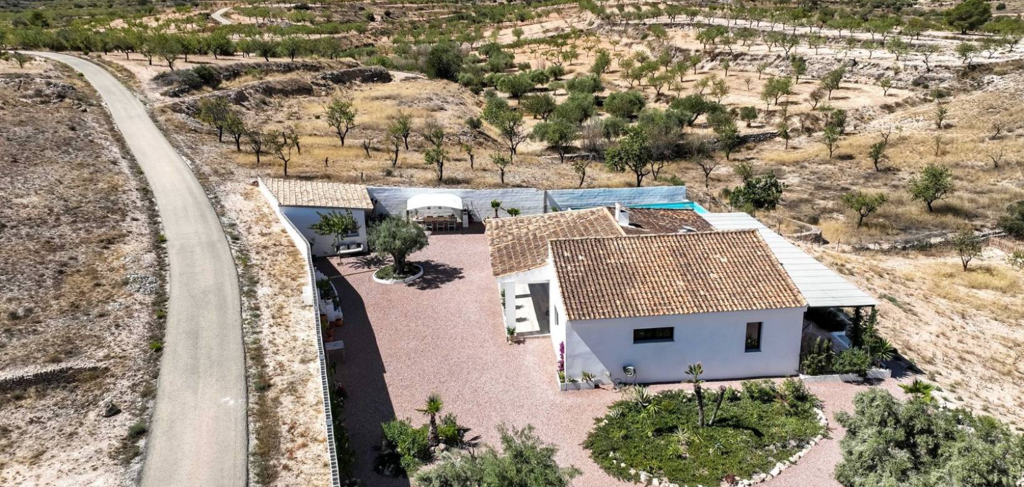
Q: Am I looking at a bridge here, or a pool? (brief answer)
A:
pool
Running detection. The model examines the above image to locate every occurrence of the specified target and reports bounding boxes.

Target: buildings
[262,178,374,256]
[486,195,808,387]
